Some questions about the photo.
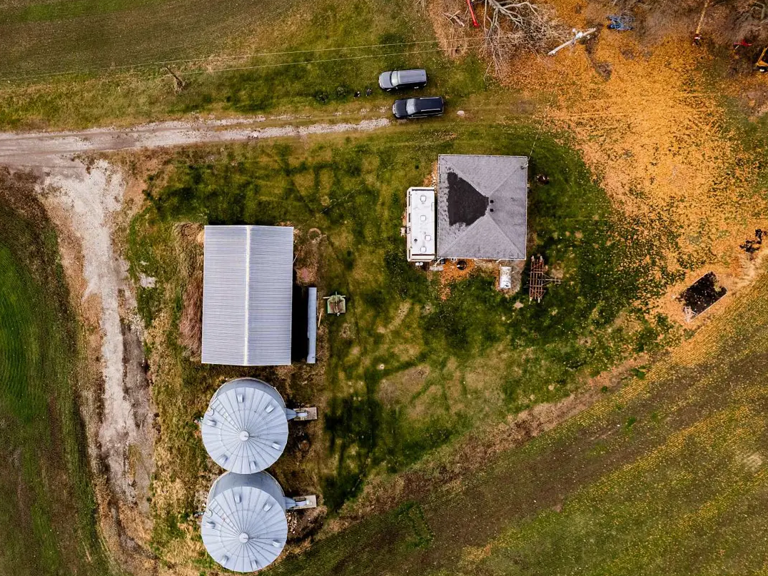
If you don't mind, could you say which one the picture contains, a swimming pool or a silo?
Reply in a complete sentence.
I can see a silo in this picture.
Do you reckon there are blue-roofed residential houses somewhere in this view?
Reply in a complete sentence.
No, the picture doesn't show any blue-roofed residential house.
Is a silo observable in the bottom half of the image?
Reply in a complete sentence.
Yes, you'll find a silo in the bottom half of the image.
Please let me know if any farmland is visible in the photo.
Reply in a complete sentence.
Yes, there is farmland in the image.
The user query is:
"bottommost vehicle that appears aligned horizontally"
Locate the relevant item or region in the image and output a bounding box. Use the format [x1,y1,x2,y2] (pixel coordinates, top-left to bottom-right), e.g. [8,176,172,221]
[392,95,445,120]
